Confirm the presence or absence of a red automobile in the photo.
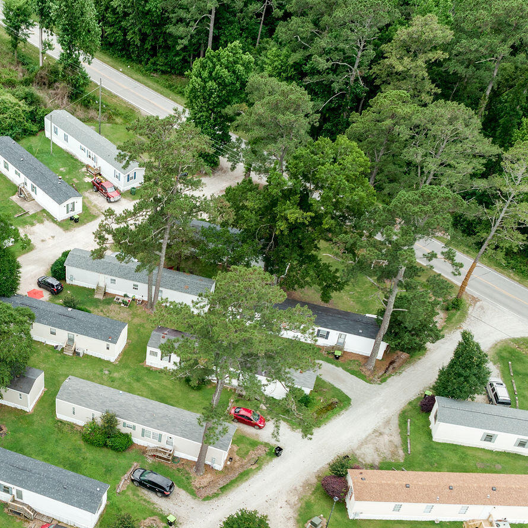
Yes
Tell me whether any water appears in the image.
No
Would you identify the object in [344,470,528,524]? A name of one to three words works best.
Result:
house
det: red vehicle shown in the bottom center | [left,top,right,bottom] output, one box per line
[229,406,266,430]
